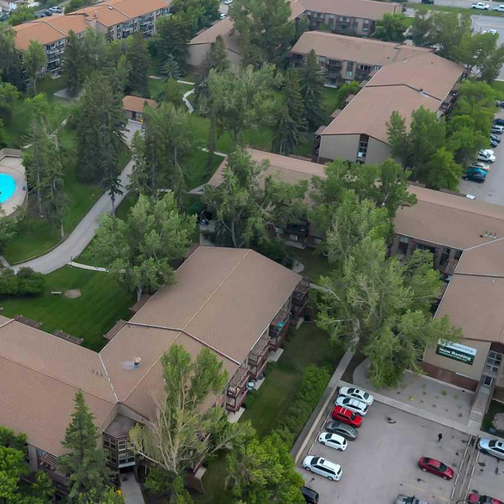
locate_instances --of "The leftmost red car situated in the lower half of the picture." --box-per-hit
[330,404,363,426]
